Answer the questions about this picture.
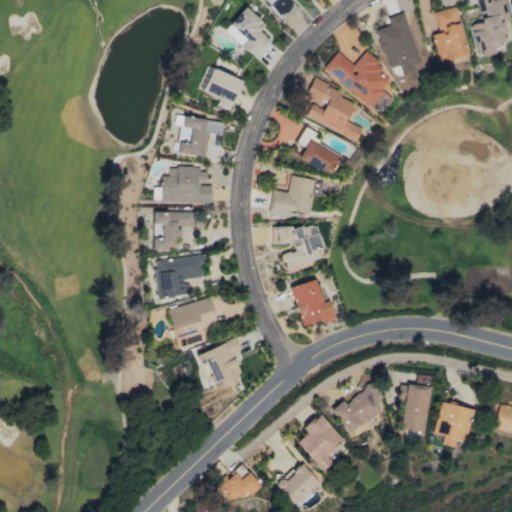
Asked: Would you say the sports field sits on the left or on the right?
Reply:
right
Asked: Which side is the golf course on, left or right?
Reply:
left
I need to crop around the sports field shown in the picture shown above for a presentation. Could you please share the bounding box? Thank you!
[404,109,512,220]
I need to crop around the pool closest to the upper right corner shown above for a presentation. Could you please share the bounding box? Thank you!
[352,113,374,132]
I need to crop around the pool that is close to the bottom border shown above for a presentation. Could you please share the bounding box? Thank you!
[302,492,322,508]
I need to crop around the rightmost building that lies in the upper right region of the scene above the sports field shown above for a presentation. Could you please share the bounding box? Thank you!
[472,0,511,57]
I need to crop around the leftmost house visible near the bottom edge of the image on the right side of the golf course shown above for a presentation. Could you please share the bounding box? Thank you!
[218,464,263,500]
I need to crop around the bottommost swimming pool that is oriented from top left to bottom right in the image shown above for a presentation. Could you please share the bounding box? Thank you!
[328,137,348,154]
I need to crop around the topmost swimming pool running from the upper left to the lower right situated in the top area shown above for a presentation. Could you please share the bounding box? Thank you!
[214,34,236,52]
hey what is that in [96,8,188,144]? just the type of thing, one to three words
pond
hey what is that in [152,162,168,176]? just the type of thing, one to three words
swimming pool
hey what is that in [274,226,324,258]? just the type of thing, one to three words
house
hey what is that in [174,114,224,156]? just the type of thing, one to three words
house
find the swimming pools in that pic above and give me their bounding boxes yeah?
[155,320,166,339]
[328,137,348,154]
[352,113,374,132]
[152,162,168,176]
[214,34,236,52]
[302,492,322,508]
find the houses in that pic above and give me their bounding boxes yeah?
[270,0,298,16]
[498,404,512,436]
[154,212,194,252]
[274,226,324,258]
[270,175,316,217]
[218,464,263,500]
[334,384,384,436]
[174,114,224,156]
[278,464,321,507]
[472,0,511,57]
[400,374,433,438]
[200,66,244,104]
[436,403,476,448]
[433,6,470,62]
[306,80,364,143]
[378,10,422,76]
[156,254,206,298]
[298,126,344,174]
[198,338,243,388]
[300,415,345,470]
[326,50,393,112]
[226,7,271,53]
[293,280,338,327]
